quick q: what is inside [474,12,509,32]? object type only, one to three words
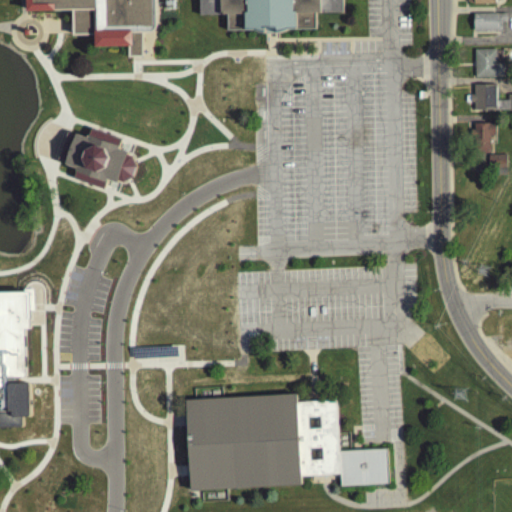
house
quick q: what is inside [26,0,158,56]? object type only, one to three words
building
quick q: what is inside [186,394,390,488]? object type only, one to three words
building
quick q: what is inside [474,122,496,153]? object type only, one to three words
house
